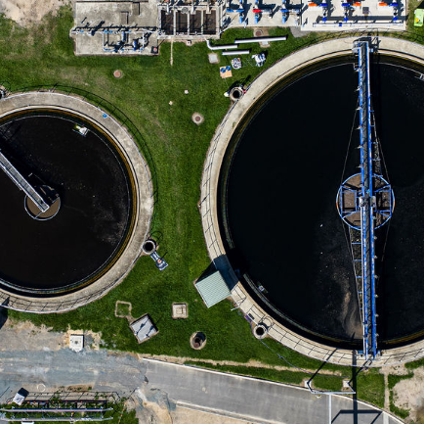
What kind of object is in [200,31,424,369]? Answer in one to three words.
storage tank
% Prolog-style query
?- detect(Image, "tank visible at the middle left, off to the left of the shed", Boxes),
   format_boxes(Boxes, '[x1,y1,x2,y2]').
[0,91,153,313]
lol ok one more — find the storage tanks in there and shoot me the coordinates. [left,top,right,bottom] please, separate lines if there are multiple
[0,91,153,313]
[200,31,424,369]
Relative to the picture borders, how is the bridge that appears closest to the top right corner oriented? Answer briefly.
from top to bottom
